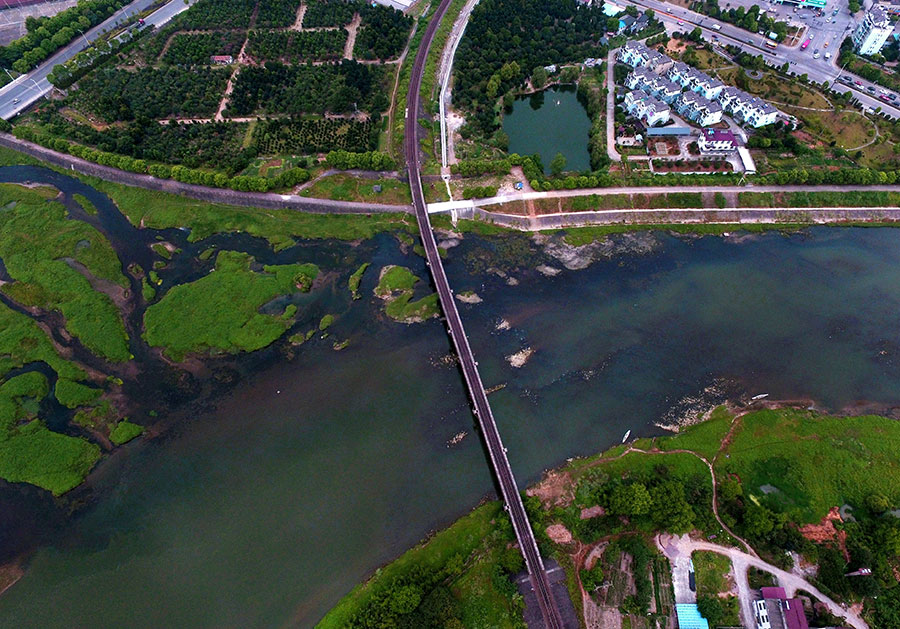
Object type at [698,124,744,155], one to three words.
house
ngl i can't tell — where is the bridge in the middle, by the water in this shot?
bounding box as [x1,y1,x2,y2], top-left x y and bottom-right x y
[406,162,548,581]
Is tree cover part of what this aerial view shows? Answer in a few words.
Yes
